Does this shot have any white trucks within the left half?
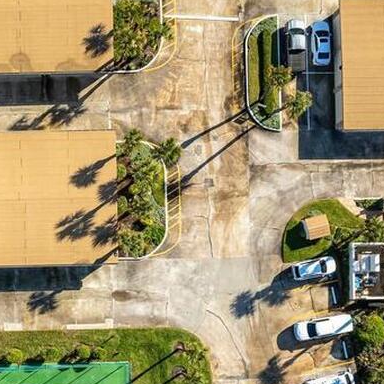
No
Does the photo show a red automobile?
No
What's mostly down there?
paved ground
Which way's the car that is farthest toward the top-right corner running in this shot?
up and down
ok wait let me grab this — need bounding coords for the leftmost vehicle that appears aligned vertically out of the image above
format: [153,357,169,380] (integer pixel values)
[284,22,308,73]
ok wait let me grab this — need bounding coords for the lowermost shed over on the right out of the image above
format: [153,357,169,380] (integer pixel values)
[297,212,332,239]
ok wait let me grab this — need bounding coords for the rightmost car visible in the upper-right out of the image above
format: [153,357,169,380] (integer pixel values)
[310,23,332,67]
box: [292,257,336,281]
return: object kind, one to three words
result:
car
